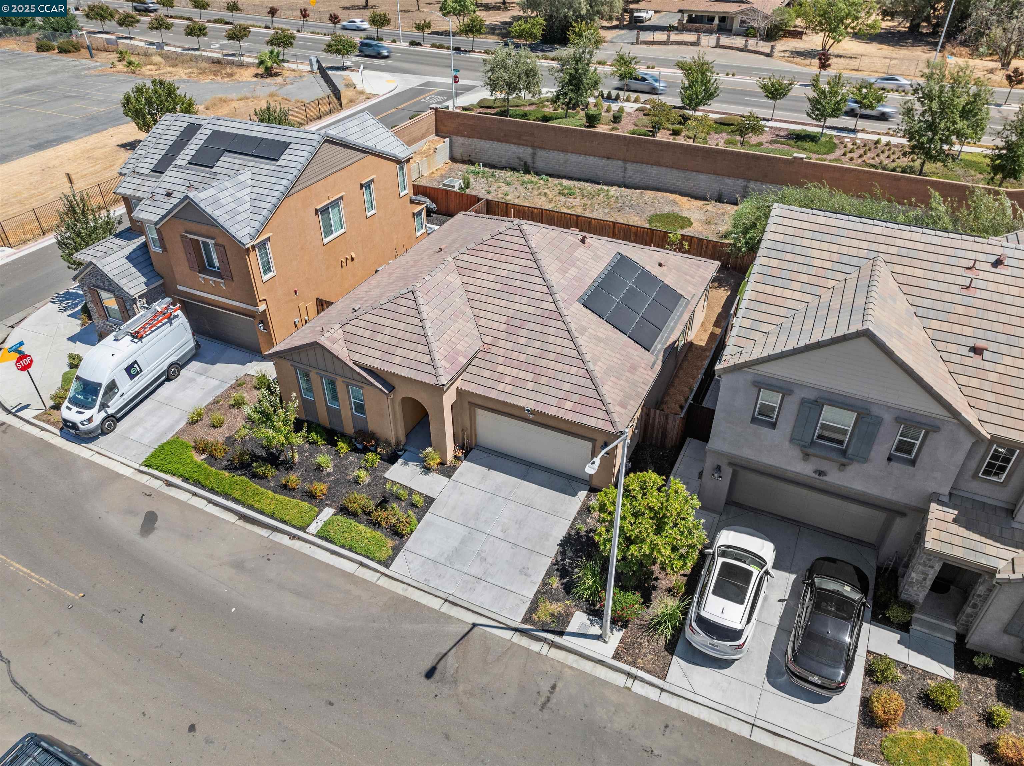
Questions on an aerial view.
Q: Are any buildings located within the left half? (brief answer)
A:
Yes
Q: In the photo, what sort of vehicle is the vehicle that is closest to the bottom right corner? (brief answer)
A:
car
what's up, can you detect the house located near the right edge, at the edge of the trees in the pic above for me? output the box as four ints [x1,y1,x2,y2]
[699,203,1024,668]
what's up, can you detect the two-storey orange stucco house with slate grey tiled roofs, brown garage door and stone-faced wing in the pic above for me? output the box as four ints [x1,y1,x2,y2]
[66,110,431,356]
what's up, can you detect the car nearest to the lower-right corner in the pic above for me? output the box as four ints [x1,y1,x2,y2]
[785,549,878,698]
